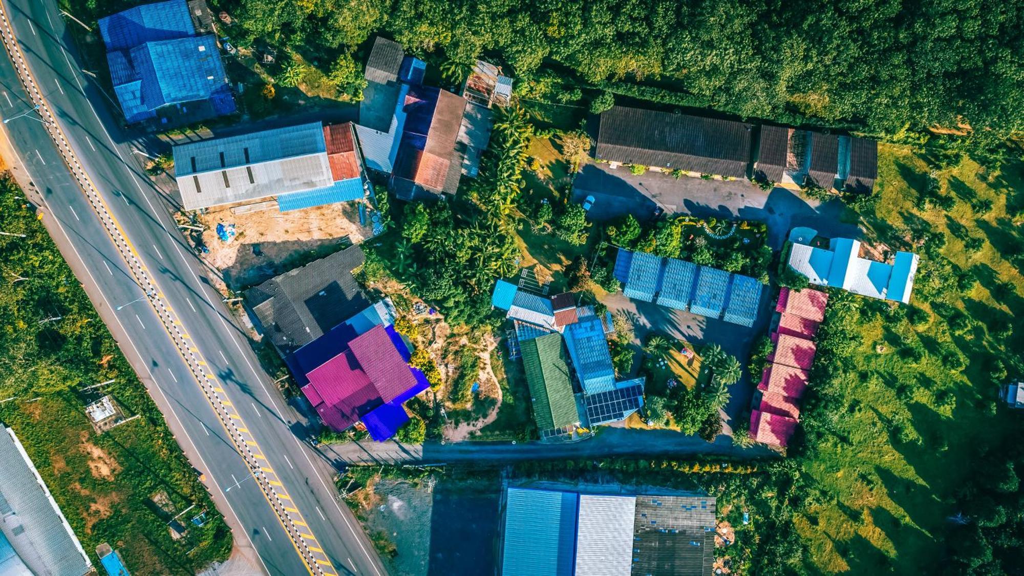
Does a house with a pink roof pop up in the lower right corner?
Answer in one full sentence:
Yes, I can see a house with a pink roof in the lower right corner.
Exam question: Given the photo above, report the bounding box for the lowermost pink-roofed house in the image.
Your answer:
[741,410,798,447]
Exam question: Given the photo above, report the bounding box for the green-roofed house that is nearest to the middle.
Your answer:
[517,333,579,431]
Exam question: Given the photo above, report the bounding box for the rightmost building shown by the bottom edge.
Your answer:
[502,484,716,576]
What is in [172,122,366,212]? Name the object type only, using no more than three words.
building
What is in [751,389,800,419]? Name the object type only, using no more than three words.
house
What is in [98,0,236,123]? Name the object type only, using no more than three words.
house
